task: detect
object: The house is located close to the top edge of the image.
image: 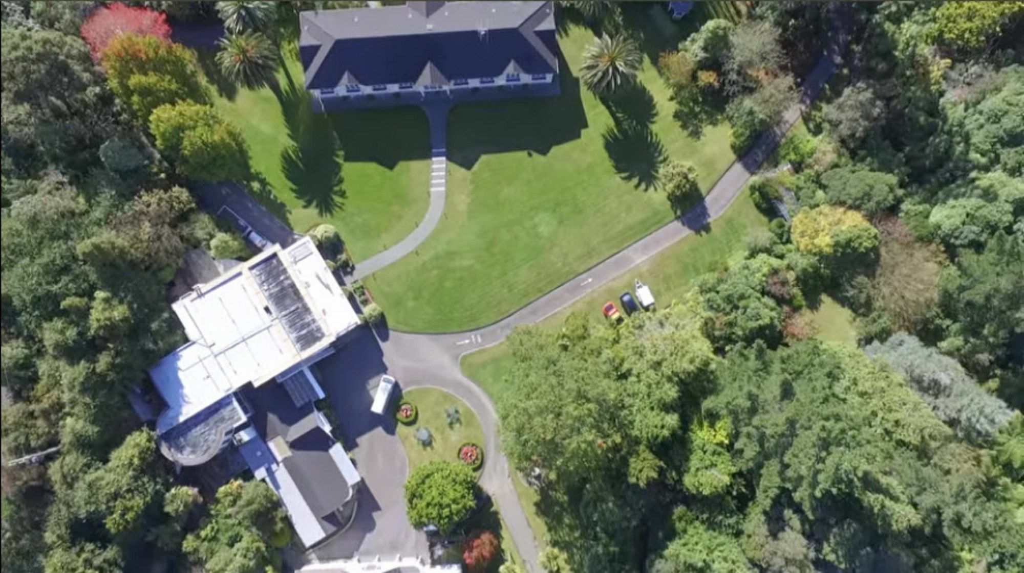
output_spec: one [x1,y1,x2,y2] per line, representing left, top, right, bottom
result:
[299,0,556,102]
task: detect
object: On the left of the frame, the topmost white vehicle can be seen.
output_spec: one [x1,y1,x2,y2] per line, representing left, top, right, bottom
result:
[368,374,394,414]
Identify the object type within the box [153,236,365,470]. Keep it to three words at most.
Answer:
building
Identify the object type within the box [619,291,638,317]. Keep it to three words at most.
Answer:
car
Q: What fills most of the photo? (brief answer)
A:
trees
